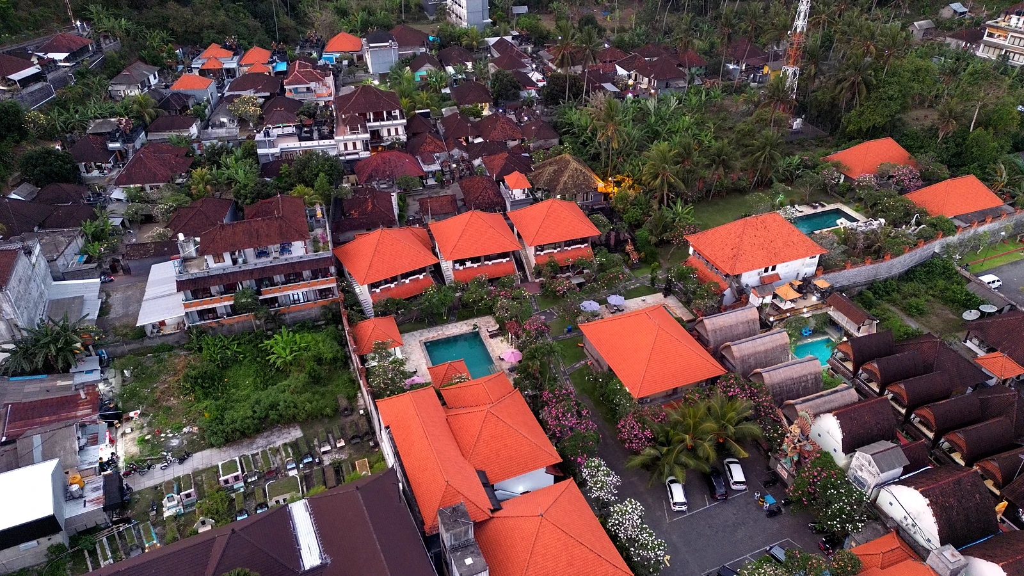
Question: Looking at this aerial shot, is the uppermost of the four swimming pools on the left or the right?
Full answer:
It is on the right.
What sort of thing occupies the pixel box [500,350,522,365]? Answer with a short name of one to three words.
umbrella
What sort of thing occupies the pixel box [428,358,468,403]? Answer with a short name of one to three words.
building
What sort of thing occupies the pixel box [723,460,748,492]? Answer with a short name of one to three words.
car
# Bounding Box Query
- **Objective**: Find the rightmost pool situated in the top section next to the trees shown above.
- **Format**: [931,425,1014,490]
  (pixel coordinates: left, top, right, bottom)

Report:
[789,203,868,237]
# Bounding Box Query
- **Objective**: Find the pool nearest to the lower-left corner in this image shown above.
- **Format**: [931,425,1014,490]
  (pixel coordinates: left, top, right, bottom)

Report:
[400,314,526,406]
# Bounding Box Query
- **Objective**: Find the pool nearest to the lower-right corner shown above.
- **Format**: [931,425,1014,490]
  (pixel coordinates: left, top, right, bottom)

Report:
[789,330,845,368]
